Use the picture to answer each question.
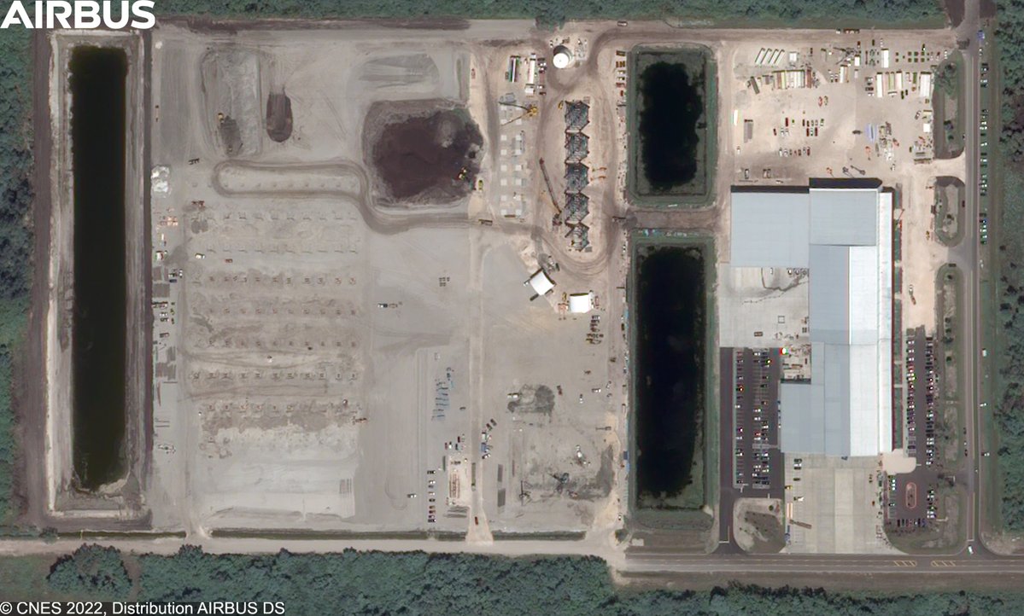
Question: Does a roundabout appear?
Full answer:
No, I find no roundabout anywhere in the image.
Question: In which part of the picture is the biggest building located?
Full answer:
The biggest building appears toward the right of the photo.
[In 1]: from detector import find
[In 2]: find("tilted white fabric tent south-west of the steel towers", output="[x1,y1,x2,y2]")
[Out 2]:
[530,268,558,295]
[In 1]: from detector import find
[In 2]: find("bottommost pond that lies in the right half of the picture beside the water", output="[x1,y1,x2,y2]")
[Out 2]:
[636,244,705,500]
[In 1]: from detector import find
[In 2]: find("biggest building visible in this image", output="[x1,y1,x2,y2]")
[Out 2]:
[733,181,898,456]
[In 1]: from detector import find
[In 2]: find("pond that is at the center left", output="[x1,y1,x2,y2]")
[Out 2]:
[72,46,128,486]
